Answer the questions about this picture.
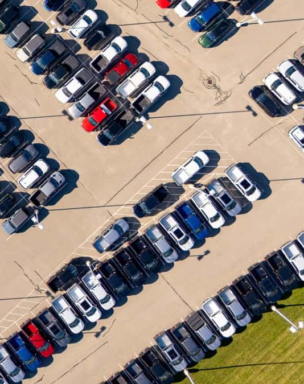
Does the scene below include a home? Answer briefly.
No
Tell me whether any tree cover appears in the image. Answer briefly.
No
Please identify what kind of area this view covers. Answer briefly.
parking lot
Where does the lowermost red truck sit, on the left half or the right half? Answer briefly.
left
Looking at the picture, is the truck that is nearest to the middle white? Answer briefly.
No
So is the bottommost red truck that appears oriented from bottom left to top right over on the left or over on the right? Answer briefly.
left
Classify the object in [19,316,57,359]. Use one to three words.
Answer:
truck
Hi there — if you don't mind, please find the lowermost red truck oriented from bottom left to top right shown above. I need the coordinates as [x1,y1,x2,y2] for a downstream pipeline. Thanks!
[80,94,121,133]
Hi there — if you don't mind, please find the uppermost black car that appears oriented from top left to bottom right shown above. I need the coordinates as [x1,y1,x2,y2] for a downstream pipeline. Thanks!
[245,83,283,119]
